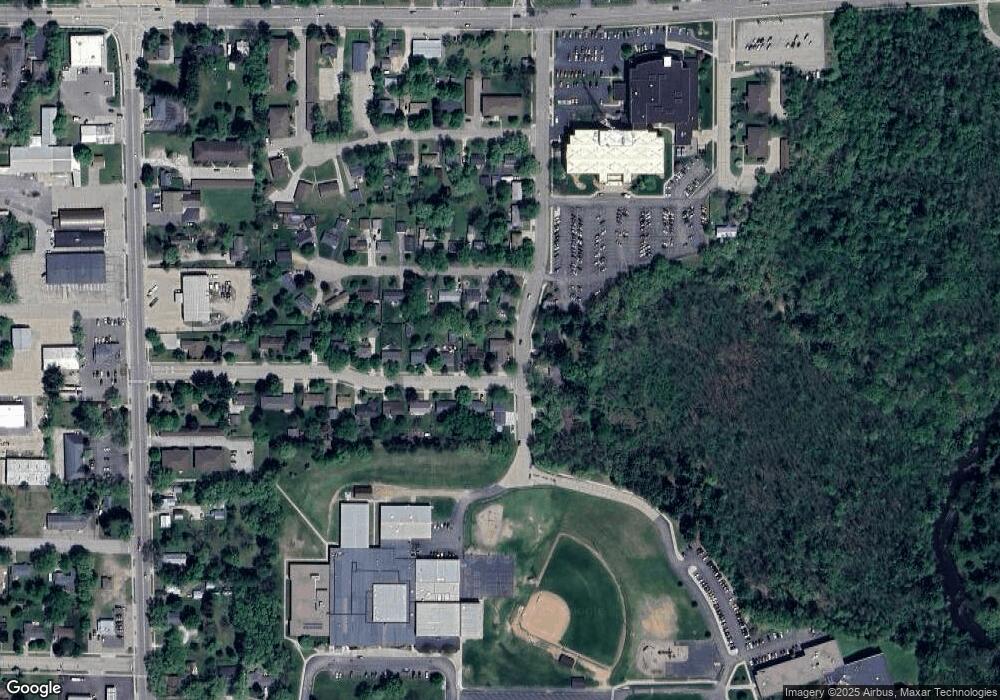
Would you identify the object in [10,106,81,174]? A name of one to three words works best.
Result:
building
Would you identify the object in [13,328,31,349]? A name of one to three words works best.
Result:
shed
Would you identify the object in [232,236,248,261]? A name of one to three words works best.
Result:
house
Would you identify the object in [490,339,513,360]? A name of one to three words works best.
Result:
house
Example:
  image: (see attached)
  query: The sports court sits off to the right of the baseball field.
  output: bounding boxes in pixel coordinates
[666,639,720,676]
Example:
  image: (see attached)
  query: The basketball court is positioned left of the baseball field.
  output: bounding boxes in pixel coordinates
[461,556,514,597]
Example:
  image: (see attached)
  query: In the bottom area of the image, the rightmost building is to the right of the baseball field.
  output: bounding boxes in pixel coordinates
[755,640,844,700]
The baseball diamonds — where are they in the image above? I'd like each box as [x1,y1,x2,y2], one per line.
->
[511,534,626,682]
